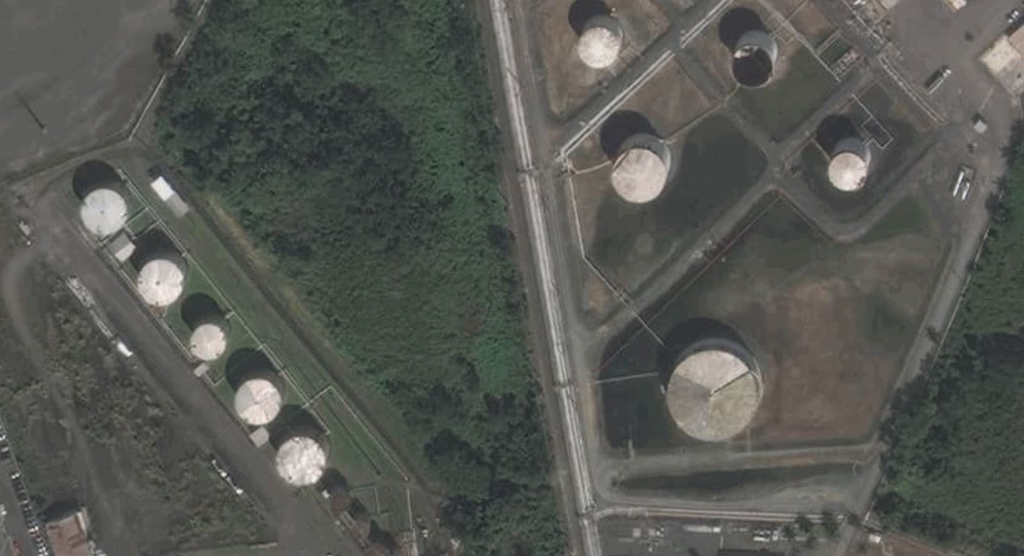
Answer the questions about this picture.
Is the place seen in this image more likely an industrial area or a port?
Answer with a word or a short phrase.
industrial area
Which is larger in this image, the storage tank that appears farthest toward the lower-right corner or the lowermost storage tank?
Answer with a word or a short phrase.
the storage tank that appears farthest toward the lower-right corner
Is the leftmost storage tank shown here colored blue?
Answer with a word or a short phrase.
No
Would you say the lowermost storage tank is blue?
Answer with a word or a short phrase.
No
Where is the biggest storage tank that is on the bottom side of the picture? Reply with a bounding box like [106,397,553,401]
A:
[668,336,764,443]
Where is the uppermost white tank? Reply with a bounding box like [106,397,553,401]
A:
[578,12,624,68]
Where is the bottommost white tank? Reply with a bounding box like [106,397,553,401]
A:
[276,423,330,488]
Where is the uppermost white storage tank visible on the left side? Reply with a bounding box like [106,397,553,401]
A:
[79,176,132,237]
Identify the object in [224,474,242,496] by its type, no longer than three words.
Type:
vehicle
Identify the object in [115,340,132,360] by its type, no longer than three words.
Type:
vehicle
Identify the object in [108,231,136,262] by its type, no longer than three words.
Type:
shed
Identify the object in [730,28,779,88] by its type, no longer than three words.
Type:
storage tank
